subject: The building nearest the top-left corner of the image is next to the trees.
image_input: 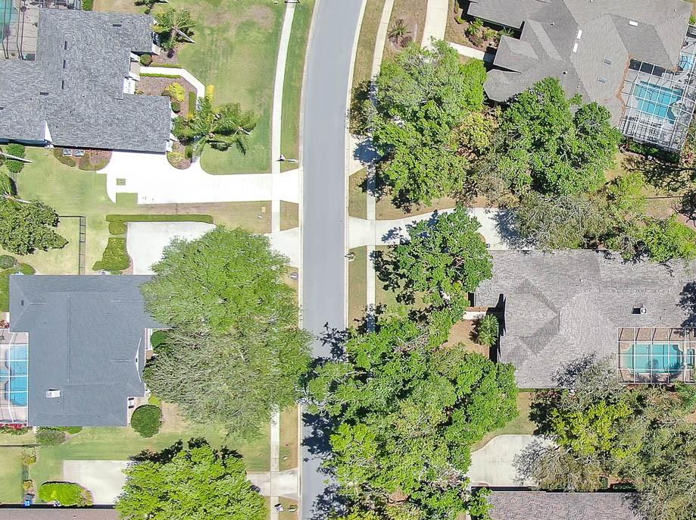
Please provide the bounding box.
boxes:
[0,13,176,154]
